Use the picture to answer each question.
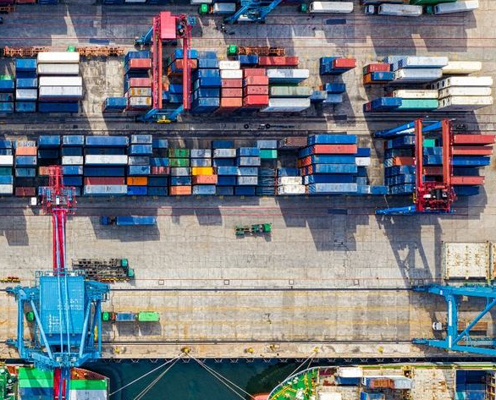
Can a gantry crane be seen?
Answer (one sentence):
Yes, a gantry crane appears in the view.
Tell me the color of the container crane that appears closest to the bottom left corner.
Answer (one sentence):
The container crane that appears closest to the bottom left corner looks blue in the image.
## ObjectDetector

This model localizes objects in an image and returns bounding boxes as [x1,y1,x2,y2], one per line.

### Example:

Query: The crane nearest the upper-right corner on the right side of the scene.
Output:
[369,114,454,219]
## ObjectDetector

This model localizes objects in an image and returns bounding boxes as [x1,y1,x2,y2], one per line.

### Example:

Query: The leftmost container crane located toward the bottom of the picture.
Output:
[5,167,110,400]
